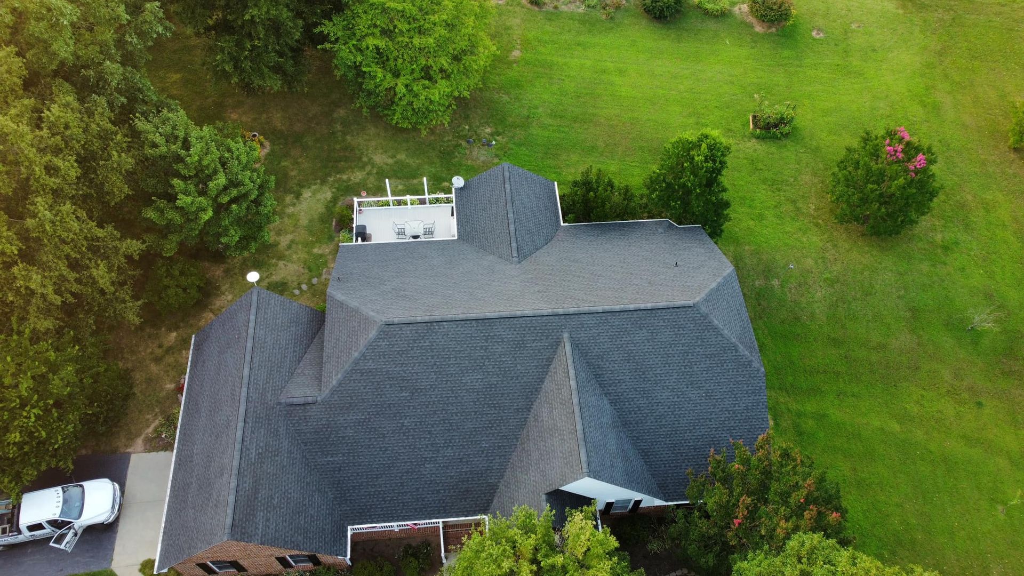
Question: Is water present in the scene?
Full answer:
No, there is no water in the image.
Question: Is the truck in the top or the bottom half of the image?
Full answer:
The bottom half of the photo is where the truck is.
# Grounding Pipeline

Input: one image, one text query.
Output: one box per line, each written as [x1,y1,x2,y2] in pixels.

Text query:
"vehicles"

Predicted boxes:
[0,480,129,558]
